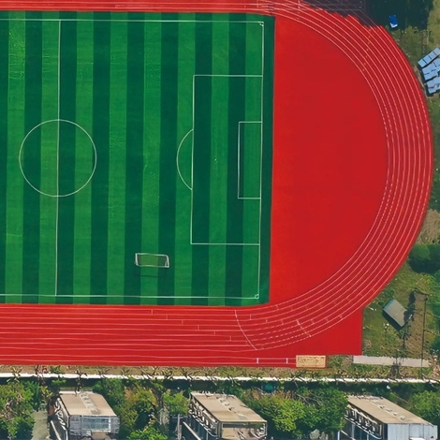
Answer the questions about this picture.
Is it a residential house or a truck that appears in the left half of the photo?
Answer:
residential house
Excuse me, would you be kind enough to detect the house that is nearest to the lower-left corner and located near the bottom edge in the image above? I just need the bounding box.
[53,395,119,440]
